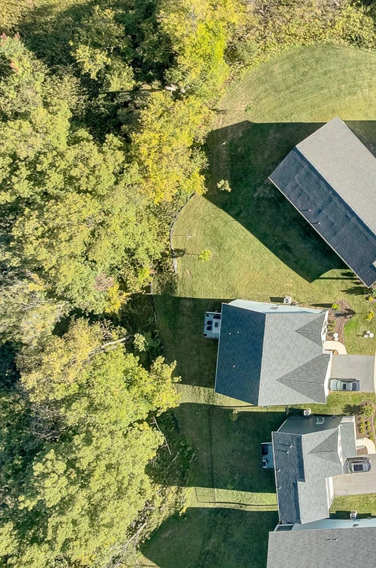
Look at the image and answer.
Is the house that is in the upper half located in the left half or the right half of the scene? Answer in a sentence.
The house that is in the upper half sits on the right side.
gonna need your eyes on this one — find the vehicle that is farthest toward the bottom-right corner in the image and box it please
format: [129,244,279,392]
[344,458,373,474]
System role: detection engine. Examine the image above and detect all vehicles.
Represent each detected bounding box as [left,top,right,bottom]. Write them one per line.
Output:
[331,378,360,392]
[344,458,373,474]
